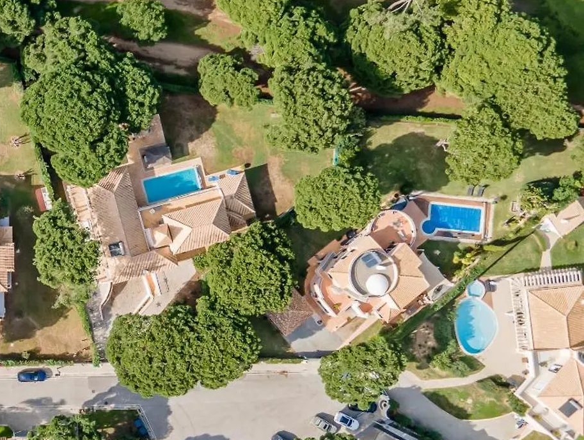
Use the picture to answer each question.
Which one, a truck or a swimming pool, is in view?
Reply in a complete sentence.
It is a swimming pool that can be seen here.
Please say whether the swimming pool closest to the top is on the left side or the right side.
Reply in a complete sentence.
The swimming pool closest to the top sits on the left side.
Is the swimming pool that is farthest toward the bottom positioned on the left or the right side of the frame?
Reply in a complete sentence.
You can find the swimming pool that is farthest toward the bottom on the right side of the picture.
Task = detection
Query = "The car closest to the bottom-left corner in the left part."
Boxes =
[18,368,48,384]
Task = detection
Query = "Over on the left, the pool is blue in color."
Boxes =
[140,164,205,206]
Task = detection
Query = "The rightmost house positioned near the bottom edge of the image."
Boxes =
[451,267,584,440]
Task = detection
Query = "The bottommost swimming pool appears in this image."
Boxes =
[454,295,500,356]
